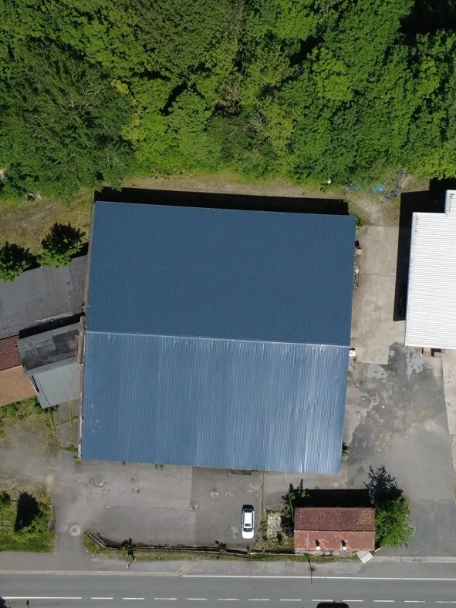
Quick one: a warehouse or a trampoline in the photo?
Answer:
warehouse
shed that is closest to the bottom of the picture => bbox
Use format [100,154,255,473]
[295,503,375,557]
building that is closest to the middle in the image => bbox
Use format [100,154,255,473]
[80,202,354,476]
